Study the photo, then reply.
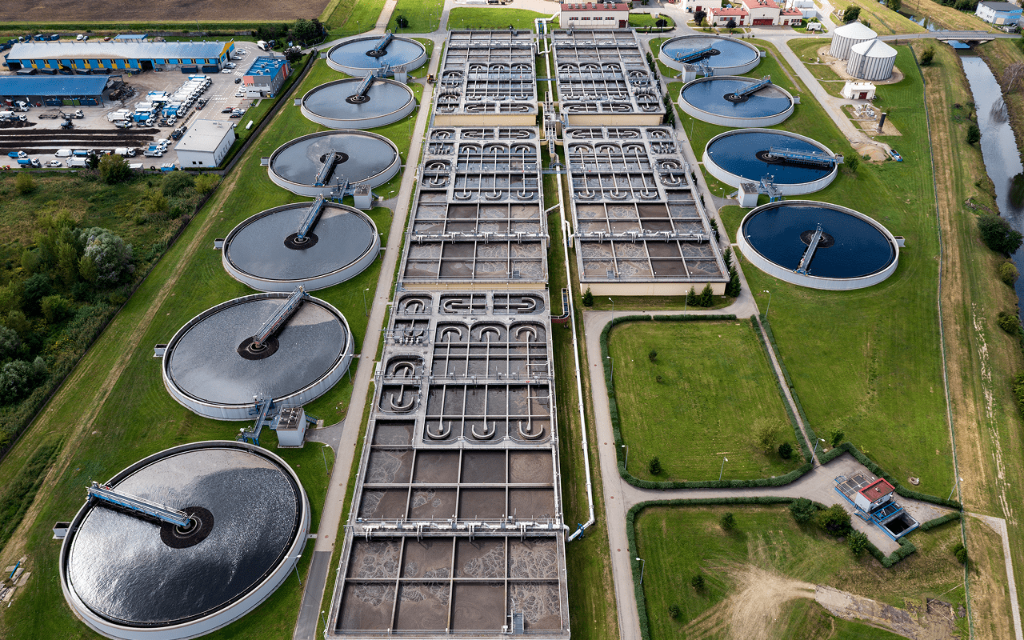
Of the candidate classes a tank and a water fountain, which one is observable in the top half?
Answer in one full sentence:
What appears in the top half is a tank.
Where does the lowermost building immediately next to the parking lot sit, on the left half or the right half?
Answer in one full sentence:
It is on the left.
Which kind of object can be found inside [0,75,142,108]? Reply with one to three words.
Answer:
shed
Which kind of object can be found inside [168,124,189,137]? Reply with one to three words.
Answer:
vehicle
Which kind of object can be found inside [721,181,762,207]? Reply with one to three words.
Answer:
building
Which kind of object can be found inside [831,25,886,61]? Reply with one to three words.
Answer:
storage tank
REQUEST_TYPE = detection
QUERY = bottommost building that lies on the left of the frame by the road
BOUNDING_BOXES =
[274,407,334,448]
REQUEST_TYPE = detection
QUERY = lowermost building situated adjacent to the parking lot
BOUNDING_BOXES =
[173,121,235,167]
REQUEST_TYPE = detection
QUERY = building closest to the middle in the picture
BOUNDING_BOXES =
[352,183,391,209]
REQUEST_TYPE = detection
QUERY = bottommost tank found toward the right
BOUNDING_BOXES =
[736,199,899,291]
